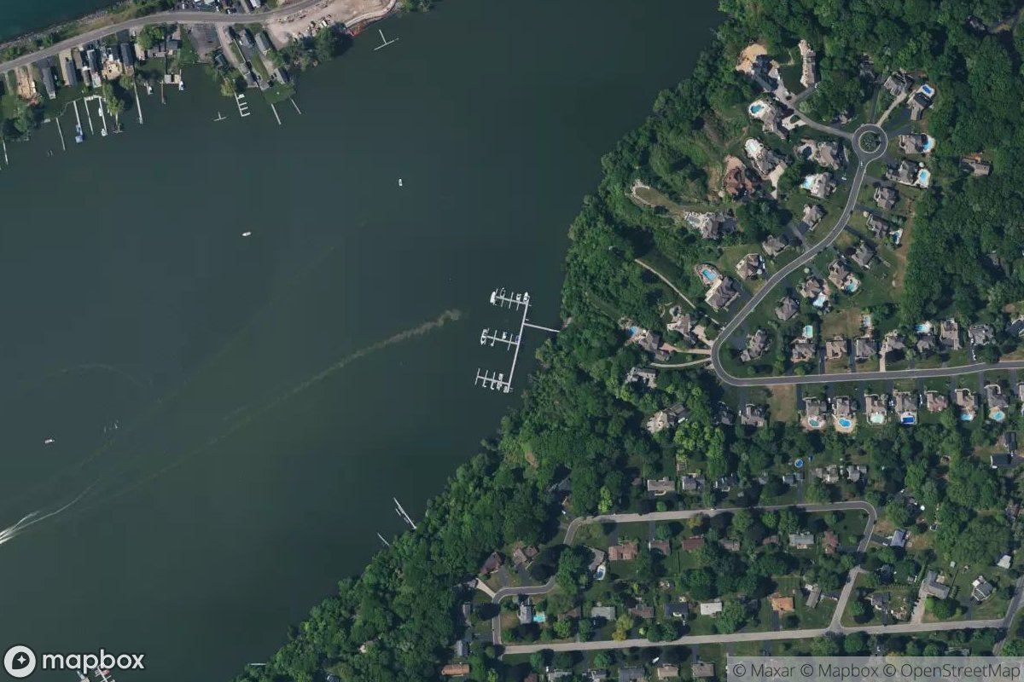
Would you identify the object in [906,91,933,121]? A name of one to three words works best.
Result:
house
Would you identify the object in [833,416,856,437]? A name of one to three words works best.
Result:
swimming pool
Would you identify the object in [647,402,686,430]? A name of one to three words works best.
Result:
house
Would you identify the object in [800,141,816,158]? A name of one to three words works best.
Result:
swimming pool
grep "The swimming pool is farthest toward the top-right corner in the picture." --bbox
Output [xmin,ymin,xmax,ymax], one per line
[919,81,937,98]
